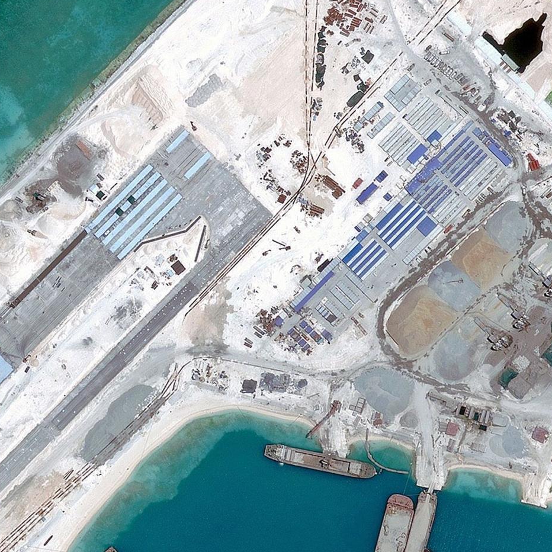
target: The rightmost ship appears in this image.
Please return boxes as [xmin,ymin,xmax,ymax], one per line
[406,482,437,552]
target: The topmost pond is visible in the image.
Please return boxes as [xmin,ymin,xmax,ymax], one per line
[482,13,547,72]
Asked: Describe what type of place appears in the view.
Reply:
port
